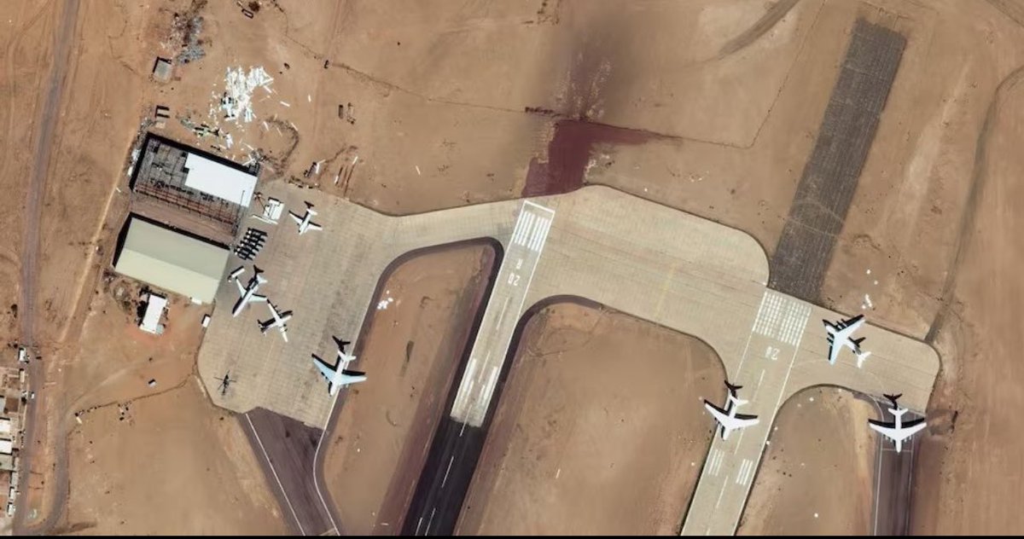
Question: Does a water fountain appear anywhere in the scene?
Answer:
No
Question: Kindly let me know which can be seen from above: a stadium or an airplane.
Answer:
airplane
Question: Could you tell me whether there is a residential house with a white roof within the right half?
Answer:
No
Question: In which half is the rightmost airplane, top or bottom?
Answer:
bottom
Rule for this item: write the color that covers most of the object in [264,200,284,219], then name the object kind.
white airplane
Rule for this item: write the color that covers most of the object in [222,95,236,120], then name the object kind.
white airplane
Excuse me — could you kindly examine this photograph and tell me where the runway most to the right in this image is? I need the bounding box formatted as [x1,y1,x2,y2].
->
[680,291,812,539]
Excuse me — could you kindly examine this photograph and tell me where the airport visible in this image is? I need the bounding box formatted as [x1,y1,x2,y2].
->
[198,18,940,539]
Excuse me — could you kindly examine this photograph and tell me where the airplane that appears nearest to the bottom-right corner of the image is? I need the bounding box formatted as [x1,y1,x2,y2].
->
[870,408,927,453]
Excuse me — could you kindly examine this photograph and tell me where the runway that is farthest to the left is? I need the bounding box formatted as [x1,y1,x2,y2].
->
[398,200,556,539]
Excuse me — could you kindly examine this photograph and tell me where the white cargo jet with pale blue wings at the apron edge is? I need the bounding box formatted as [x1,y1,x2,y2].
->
[313,350,367,394]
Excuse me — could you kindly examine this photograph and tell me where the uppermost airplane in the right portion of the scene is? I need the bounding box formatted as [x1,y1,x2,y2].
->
[826,322,872,366]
